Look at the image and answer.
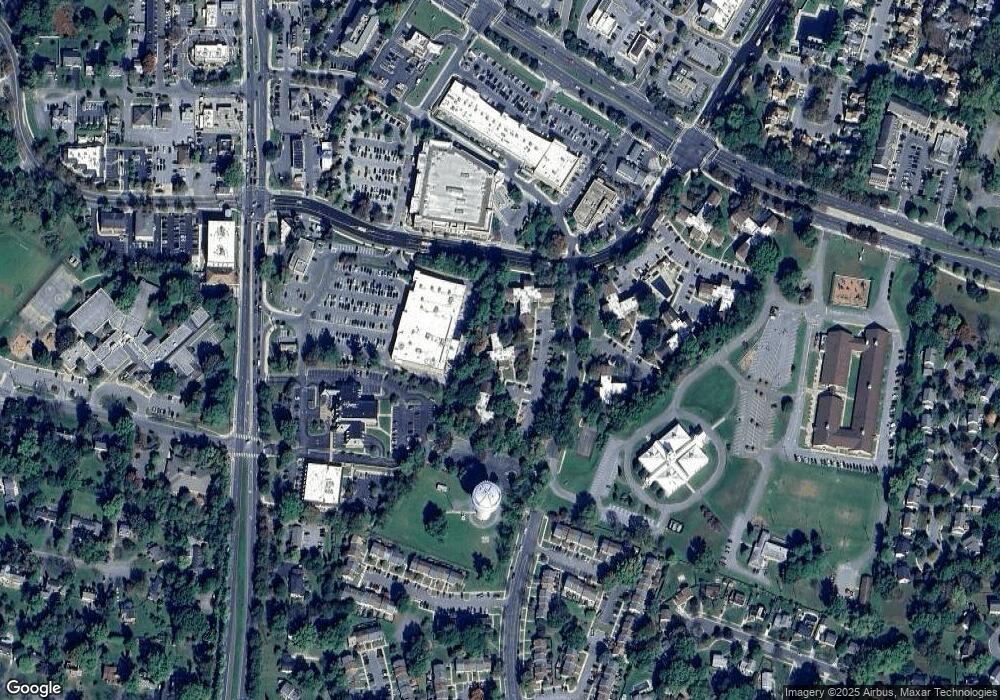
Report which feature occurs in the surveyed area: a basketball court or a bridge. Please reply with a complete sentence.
Of the two, only a basketball court appears.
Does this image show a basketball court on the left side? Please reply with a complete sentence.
Yes, there is a basketball court on the left side.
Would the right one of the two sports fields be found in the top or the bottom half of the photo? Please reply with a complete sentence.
The right one of the two sports fields is in the bottom half of the image.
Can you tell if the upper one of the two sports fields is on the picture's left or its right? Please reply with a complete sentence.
You can find the upper one of the two sports fields on the left side of the picture.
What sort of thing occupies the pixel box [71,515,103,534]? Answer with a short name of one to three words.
house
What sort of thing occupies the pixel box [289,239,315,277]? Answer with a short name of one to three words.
building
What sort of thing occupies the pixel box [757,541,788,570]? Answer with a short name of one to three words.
building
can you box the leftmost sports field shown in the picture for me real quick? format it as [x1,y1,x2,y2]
[0,229,62,332]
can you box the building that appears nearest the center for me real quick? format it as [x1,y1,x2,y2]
[472,323,515,374]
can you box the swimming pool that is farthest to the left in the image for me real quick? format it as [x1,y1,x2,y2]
[649,263,679,301]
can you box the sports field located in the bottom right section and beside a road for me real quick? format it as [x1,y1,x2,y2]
[756,461,885,562]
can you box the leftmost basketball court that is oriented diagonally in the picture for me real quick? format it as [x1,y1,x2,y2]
[19,264,81,327]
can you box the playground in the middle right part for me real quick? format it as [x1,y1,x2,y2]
[831,276,870,306]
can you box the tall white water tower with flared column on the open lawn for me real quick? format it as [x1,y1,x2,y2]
[470,478,500,521]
